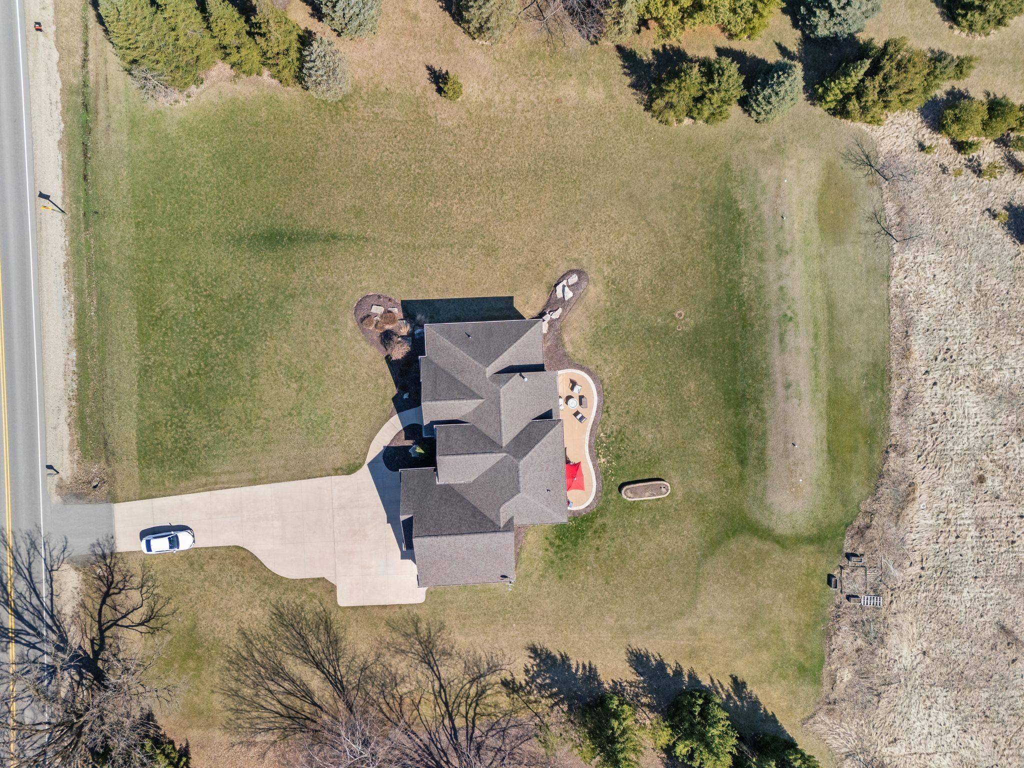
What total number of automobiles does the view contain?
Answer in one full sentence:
The count comes to 1 automobile.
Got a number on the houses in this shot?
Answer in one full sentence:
I count just 1 house.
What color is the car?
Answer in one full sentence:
In this view, the car is white.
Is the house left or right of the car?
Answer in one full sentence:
Looking at the picture, you'll find the house to the right of the car.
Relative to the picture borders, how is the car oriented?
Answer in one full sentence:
The car is laid out from left to right.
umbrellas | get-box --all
[567,461,586,491]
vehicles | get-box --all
[136,528,192,553]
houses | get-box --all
[399,318,570,589]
